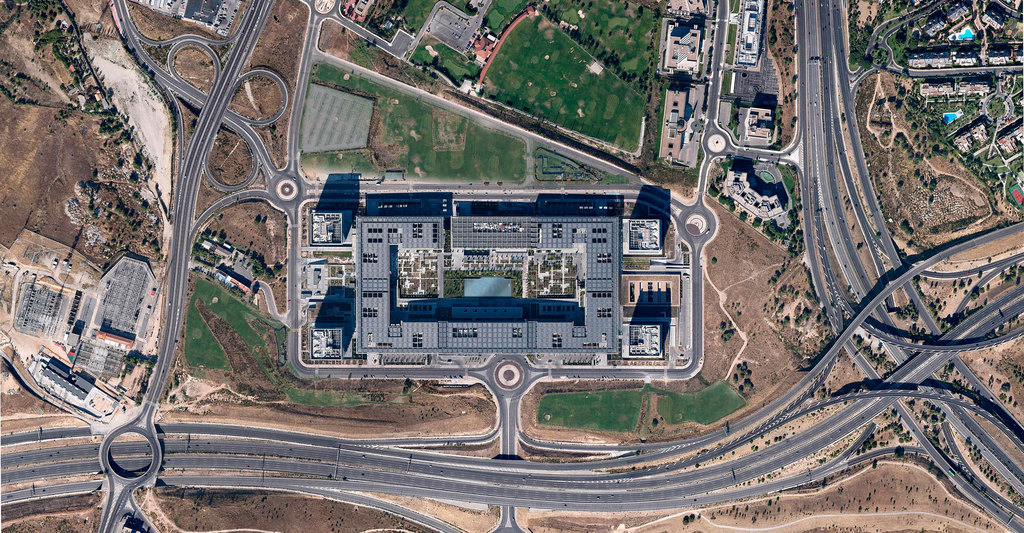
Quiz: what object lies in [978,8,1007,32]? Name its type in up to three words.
house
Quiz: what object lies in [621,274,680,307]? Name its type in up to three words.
building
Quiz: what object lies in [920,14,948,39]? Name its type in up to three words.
house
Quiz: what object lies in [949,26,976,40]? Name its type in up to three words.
swimming pool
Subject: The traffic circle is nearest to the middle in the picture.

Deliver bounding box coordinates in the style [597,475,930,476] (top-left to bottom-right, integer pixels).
[484,355,533,400]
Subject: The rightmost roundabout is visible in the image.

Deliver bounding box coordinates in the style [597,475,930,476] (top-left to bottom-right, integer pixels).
[980,90,1015,125]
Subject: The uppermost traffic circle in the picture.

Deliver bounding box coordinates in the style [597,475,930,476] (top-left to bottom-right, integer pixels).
[304,0,345,24]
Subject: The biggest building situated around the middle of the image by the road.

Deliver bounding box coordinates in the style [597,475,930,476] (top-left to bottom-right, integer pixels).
[356,216,619,355]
